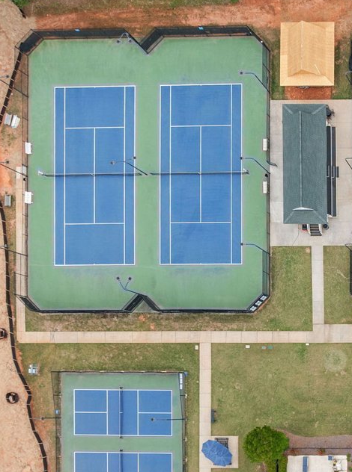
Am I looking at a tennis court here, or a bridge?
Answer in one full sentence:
Looking from above, you can make out a tennis court.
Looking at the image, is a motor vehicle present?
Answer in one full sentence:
No, there isn't any motor vehicle down there.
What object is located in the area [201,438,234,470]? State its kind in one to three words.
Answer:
umbrella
